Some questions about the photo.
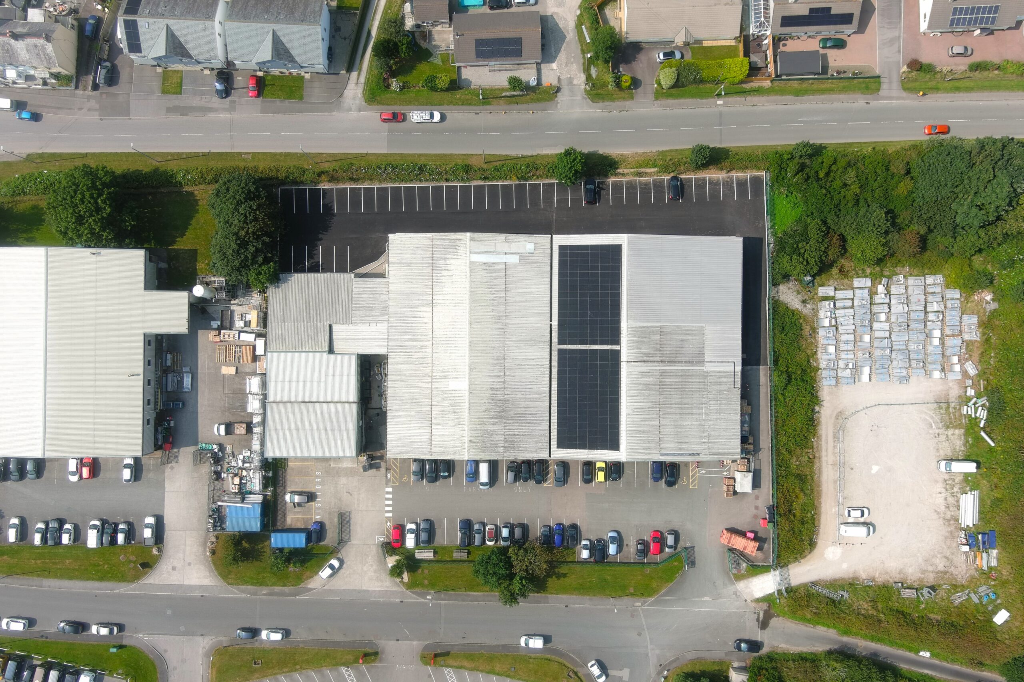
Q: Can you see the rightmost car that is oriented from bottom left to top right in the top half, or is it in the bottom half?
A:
bottom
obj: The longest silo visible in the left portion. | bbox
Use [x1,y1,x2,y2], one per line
[189,283,218,299]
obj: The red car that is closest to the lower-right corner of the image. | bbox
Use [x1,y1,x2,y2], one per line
[650,531,662,555]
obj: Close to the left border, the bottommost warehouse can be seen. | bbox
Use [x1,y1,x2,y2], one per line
[0,246,201,459]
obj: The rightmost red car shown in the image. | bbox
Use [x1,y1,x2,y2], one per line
[923,123,948,136]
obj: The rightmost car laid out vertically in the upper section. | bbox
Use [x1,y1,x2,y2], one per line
[669,176,681,200]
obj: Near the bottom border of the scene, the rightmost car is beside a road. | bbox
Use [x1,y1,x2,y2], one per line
[733,638,760,653]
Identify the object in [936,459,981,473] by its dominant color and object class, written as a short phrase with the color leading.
white vehicle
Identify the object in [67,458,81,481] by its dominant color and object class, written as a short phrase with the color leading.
white car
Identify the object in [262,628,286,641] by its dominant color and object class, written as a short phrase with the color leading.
white vehicle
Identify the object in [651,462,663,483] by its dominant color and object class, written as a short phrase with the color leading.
blue vehicle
